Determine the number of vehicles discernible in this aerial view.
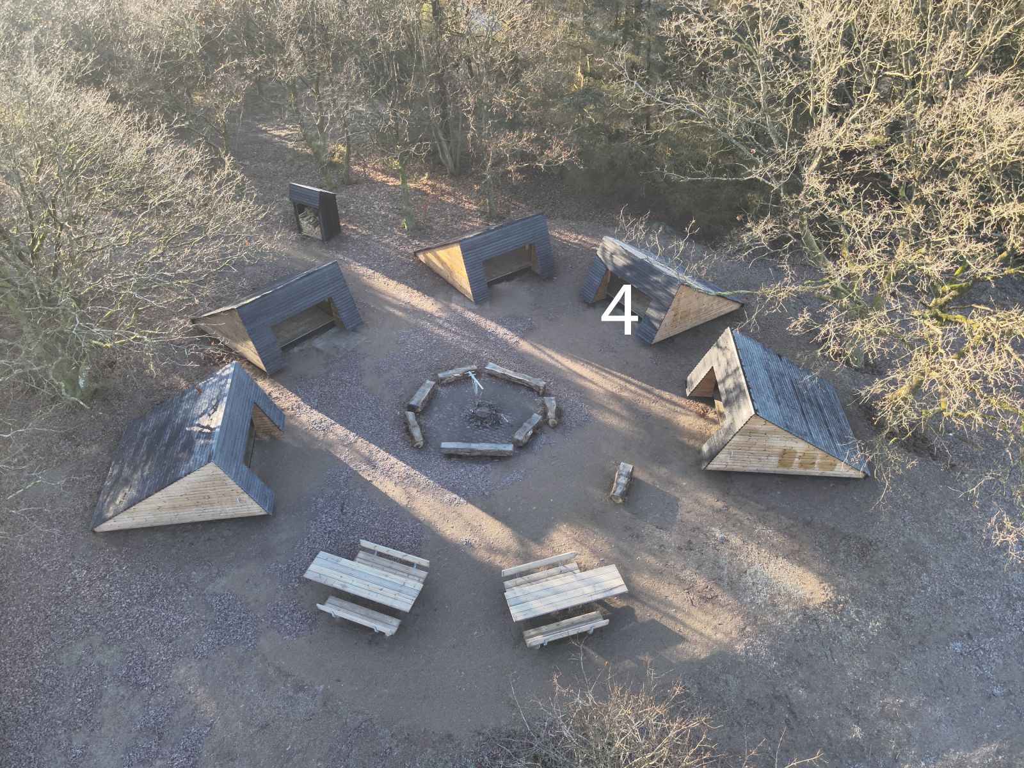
0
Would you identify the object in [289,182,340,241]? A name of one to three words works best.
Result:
shed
